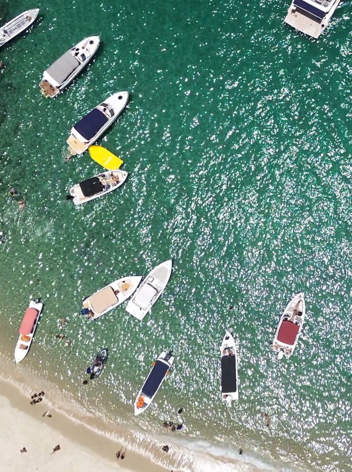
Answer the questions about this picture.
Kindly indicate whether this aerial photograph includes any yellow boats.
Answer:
Yes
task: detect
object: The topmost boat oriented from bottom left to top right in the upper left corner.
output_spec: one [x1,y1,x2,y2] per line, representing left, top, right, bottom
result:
[0,9,43,49]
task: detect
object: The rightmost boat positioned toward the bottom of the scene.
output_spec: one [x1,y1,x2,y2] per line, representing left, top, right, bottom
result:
[270,292,304,358]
